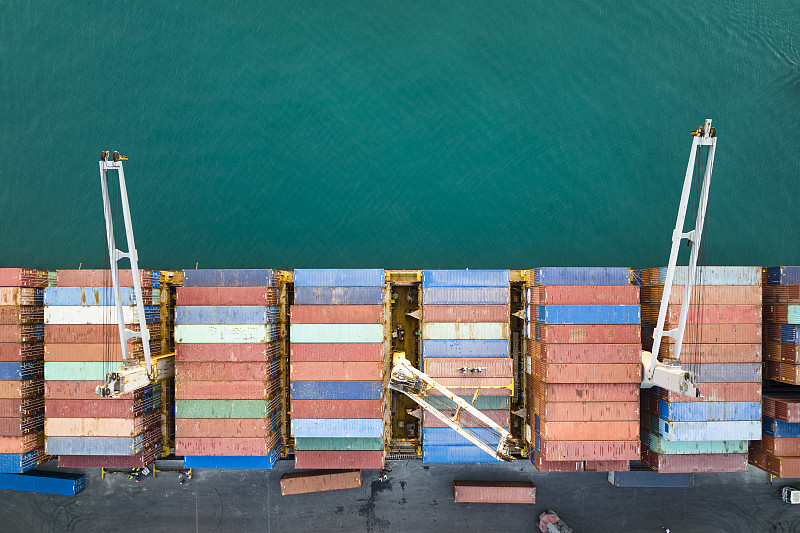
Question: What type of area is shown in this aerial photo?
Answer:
port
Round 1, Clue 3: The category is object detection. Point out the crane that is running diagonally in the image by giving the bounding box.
[385,348,519,463]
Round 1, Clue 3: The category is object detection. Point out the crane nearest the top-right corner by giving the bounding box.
[641,116,720,406]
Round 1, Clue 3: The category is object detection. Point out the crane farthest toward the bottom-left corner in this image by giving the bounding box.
[92,147,176,404]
